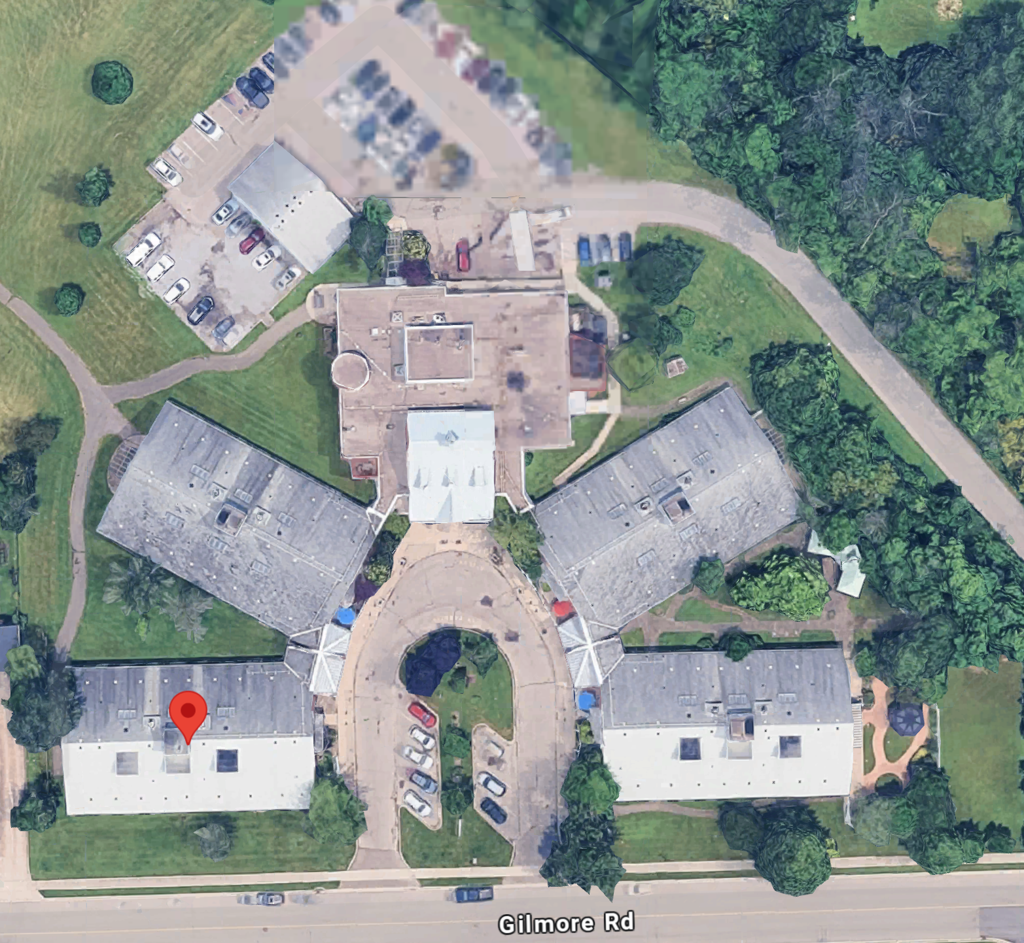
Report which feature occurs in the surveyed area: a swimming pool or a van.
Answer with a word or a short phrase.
van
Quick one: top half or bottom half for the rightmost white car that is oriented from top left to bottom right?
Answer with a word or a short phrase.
bottom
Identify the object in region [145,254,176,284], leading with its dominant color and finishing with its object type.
white van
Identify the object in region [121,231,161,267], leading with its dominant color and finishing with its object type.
white van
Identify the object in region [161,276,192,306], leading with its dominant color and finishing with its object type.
white car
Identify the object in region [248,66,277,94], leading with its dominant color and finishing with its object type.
blue car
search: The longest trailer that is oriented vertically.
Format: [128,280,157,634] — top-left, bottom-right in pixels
[510,209,535,274]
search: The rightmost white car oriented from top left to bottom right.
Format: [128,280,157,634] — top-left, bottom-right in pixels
[477,770,507,799]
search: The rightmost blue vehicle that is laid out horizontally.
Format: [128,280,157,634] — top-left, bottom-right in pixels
[454,886,493,903]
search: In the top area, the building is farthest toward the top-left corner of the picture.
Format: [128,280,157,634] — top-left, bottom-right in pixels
[229,140,356,274]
